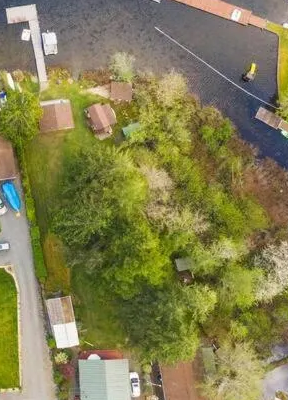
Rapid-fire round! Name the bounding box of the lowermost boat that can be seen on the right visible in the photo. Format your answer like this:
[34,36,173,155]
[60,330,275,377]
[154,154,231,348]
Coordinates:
[243,62,258,82]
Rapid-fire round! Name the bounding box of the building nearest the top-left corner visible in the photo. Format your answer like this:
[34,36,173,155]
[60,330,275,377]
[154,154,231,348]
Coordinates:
[38,99,74,133]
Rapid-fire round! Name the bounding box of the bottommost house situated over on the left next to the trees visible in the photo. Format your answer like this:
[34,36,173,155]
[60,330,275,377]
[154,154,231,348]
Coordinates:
[76,349,131,400]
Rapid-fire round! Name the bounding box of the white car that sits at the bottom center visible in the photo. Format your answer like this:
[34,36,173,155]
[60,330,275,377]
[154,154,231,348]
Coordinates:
[129,373,143,400]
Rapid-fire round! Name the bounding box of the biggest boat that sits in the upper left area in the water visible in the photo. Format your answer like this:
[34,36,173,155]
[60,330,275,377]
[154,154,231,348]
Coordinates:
[42,31,58,56]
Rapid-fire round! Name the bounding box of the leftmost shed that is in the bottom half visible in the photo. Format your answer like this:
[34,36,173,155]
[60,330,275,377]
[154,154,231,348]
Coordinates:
[45,294,78,348]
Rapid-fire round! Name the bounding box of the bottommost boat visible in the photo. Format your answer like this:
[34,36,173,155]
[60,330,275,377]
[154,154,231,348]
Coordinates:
[2,180,21,219]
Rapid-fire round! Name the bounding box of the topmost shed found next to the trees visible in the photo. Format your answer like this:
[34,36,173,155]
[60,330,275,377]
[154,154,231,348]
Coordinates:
[108,83,132,101]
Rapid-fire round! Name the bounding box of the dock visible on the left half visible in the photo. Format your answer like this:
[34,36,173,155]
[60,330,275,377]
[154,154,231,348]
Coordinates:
[6,4,47,82]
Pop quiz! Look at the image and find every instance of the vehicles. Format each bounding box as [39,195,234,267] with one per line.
[129,373,143,400]
[0,197,9,217]
[0,240,12,253]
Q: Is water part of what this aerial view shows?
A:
Yes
